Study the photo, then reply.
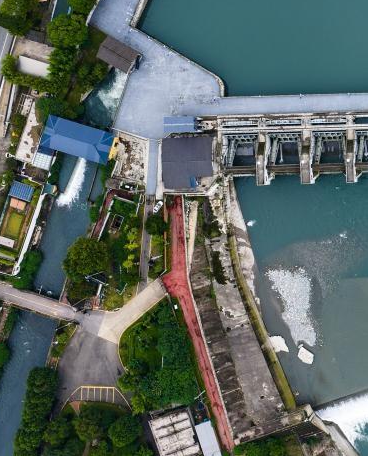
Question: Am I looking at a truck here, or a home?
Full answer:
Visible in the photo is a home.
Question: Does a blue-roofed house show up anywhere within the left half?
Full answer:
Yes, looking within the left half, one can make out a blue-roofed house.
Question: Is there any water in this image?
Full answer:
Yes, there is water in the image.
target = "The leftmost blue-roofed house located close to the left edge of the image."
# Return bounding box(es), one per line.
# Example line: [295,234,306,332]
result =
[9,180,40,202]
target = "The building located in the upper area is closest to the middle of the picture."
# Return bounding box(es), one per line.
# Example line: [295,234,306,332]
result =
[161,136,215,189]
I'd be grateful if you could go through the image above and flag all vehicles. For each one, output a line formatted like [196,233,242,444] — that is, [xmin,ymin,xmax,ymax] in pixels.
[152,200,164,212]
[122,183,135,190]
